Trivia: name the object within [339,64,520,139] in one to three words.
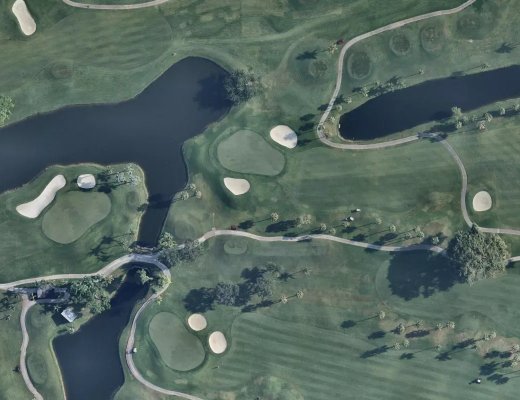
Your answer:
pond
